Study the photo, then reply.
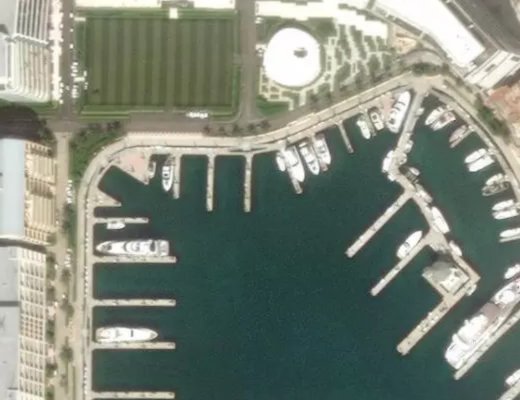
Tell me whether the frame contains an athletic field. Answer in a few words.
Yes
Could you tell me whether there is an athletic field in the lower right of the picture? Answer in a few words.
No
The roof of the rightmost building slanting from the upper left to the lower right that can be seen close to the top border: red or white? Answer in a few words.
white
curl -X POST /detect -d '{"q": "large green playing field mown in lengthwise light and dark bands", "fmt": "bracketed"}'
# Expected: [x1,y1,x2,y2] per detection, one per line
[79,9,239,121]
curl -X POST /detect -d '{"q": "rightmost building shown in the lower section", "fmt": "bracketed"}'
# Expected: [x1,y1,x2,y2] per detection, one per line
[419,258,474,299]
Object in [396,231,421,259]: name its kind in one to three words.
boat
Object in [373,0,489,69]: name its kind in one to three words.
building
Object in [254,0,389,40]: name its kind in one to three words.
building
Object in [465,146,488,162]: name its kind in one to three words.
boat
